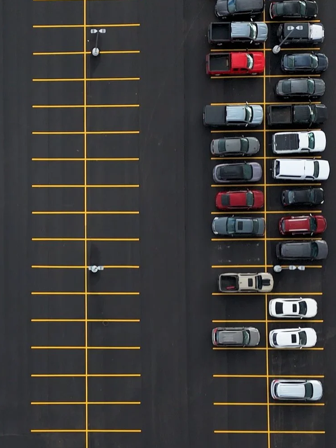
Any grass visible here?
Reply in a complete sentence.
No, no grass is visible.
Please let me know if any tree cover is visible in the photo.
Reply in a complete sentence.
No, there's no tree cover in this view.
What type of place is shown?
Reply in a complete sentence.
What you see here is a parking lot.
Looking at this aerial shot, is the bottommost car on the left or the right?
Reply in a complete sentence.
It is on the right.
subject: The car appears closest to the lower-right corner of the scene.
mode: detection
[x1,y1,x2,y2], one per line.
[270,380,322,402]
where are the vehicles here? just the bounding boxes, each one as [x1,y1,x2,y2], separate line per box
[267,101,327,127]
[271,129,327,153]
[268,0,317,21]
[202,102,264,127]
[211,327,259,349]
[276,21,325,44]
[270,380,322,402]
[211,216,266,237]
[214,189,264,210]
[217,271,273,295]
[268,327,316,349]
[280,186,323,208]
[212,161,262,183]
[206,20,268,45]
[205,50,266,75]
[280,51,327,73]
[275,76,324,99]
[275,239,327,262]
[268,297,316,319]
[214,0,265,20]
[210,135,259,156]
[271,156,331,181]
[277,214,326,236]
